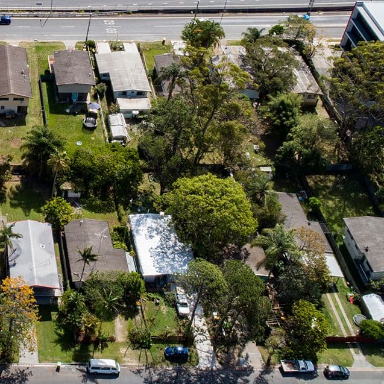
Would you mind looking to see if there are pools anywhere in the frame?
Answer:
No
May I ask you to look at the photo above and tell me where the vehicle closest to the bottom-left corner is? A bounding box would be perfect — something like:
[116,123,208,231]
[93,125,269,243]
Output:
[87,358,120,375]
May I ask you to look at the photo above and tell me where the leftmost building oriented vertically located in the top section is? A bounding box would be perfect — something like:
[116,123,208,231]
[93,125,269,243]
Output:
[0,44,33,114]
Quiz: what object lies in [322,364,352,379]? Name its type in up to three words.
car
